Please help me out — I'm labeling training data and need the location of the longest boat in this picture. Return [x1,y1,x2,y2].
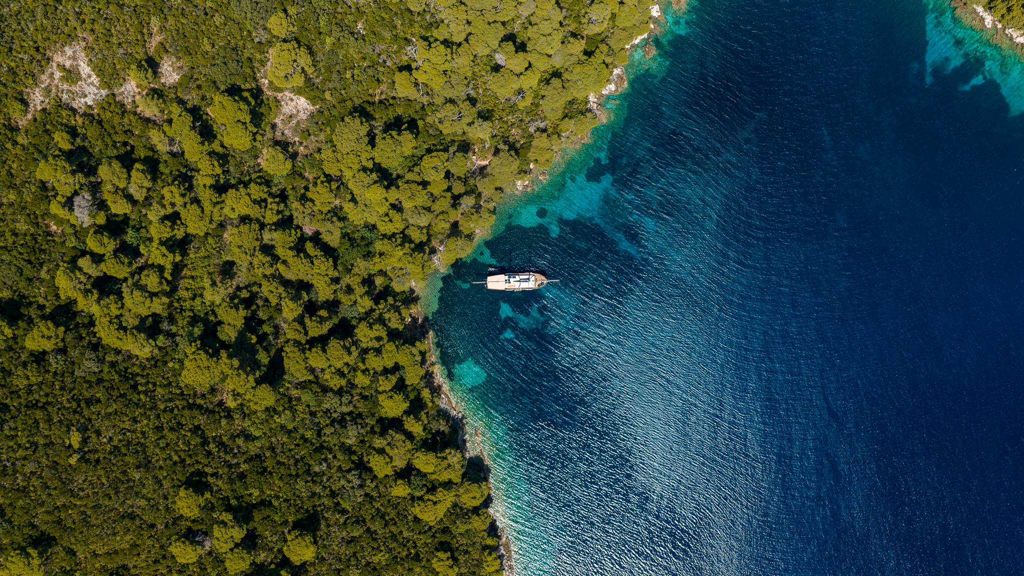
[472,273,560,292]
